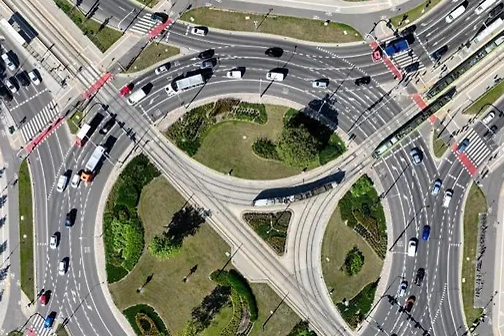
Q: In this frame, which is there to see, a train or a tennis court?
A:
train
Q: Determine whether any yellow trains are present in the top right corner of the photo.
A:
No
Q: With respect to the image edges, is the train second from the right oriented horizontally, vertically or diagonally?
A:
diagonally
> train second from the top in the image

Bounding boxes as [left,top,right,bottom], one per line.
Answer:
[373,86,460,156]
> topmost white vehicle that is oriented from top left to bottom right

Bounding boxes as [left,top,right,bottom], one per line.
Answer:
[2,55,16,69]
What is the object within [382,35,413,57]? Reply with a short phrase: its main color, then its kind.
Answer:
blue truck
